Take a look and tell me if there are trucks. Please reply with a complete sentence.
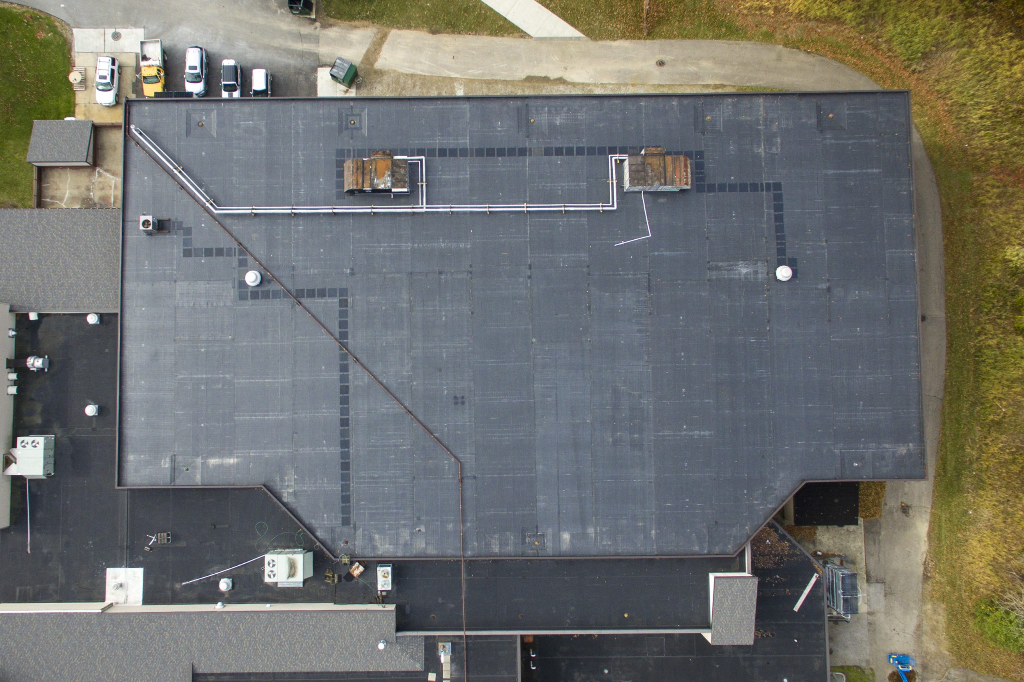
Yes, the frame does contain a truck.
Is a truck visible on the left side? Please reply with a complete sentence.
Yes, a truck appears on the left side.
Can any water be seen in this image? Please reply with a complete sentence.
No, water can't be seen anywhere here.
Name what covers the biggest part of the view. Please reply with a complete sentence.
The largest share of the image is taken up by buildings.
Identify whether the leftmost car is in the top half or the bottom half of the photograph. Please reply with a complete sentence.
The leftmost car is in the top half of the image.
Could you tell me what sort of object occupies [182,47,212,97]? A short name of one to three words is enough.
car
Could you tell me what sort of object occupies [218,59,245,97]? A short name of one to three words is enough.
car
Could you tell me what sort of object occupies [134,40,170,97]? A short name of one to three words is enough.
truck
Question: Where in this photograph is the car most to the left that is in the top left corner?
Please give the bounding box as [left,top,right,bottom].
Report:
[90,53,122,107]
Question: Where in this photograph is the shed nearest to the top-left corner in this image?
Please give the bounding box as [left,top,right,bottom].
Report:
[27,119,94,165]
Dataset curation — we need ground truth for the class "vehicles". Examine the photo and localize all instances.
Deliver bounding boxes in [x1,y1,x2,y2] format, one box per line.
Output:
[134,40,170,97]
[90,53,122,107]
[182,47,212,97]
[251,68,275,97]
[218,59,245,97]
